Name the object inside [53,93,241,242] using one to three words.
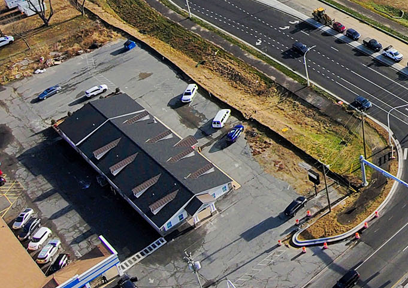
building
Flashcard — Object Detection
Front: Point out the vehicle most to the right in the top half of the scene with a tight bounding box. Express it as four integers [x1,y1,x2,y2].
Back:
[382,47,402,61]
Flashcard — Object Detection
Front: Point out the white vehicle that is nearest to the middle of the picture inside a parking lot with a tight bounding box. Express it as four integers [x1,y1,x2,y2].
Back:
[214,105,232,129]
